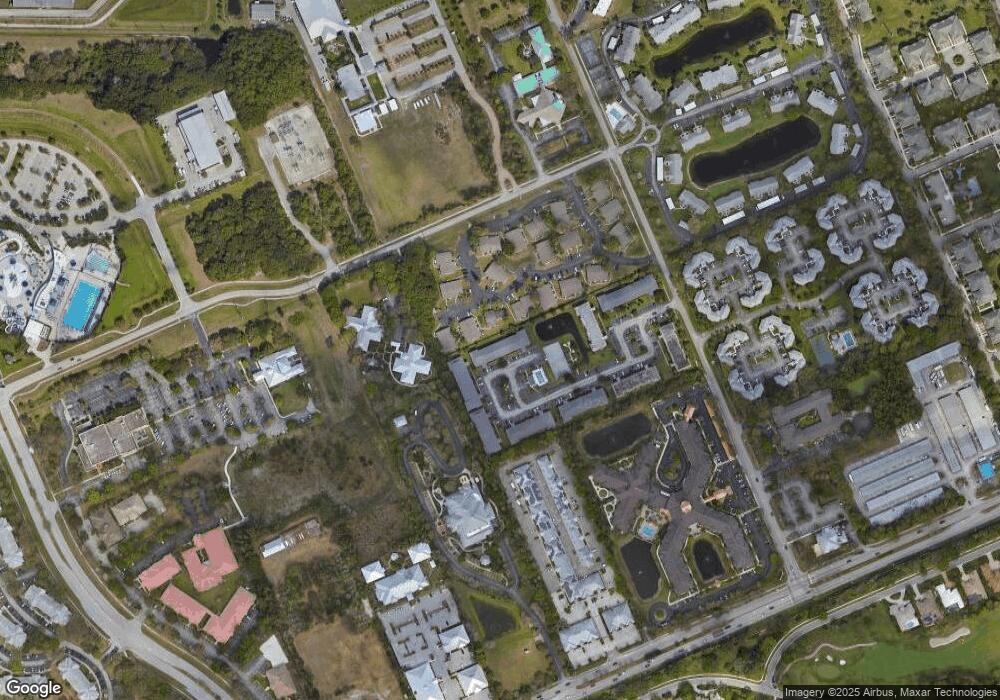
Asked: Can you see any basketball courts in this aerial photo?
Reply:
No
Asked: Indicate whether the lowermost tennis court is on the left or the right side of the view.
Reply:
right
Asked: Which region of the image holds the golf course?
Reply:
bottom right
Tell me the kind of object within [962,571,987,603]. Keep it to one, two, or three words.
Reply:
house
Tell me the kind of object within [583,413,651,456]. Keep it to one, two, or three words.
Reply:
pond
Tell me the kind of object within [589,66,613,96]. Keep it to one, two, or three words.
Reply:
tennis court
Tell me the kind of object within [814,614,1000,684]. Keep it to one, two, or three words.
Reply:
golf course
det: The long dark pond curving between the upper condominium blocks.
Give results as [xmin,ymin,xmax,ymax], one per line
[652,8,775,78]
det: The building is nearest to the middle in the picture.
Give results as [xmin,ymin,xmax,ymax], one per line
[470,330,530,366]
